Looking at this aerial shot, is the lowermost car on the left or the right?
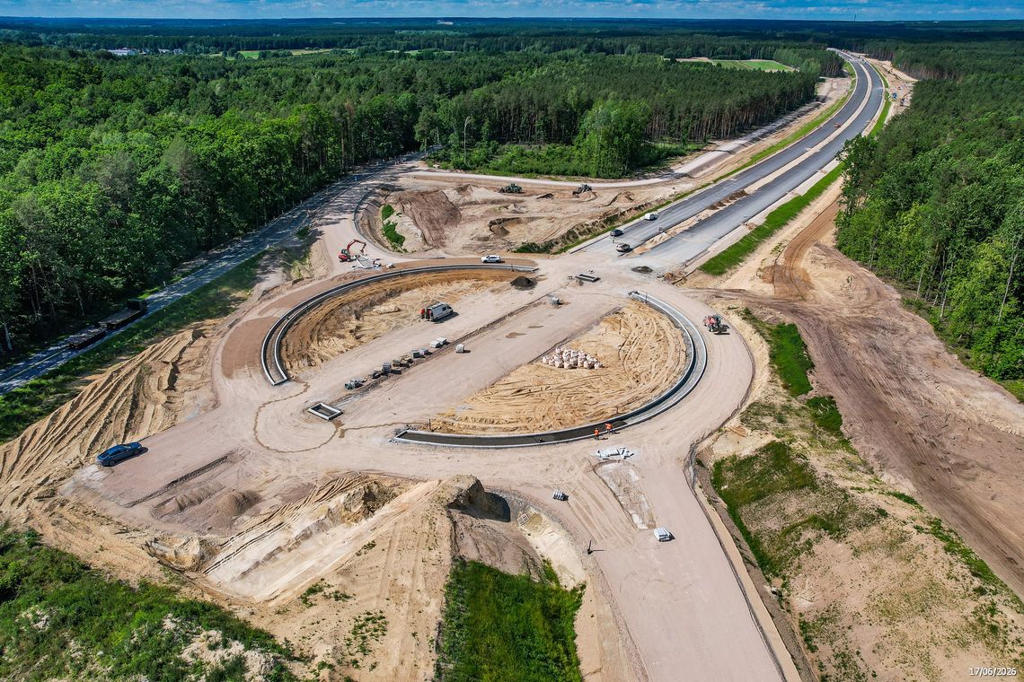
left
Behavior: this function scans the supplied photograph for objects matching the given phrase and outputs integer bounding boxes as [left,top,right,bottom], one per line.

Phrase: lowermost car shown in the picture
[92,440,144,468]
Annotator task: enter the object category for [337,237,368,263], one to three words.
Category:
work vehicle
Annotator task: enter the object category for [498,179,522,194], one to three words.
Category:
work vehicle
